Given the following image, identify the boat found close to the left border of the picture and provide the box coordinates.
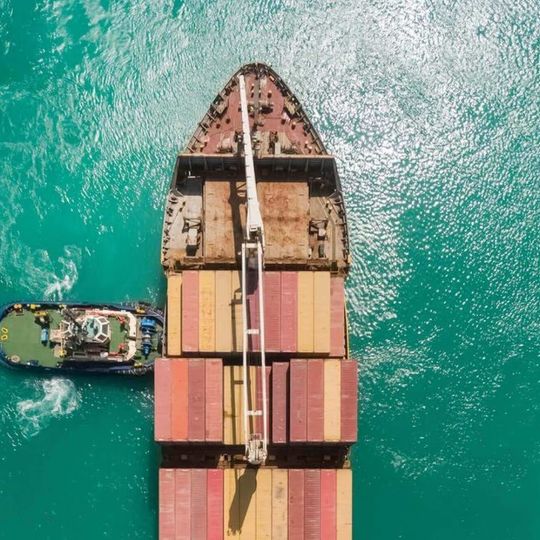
[0,300,161,377]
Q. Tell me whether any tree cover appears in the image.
No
